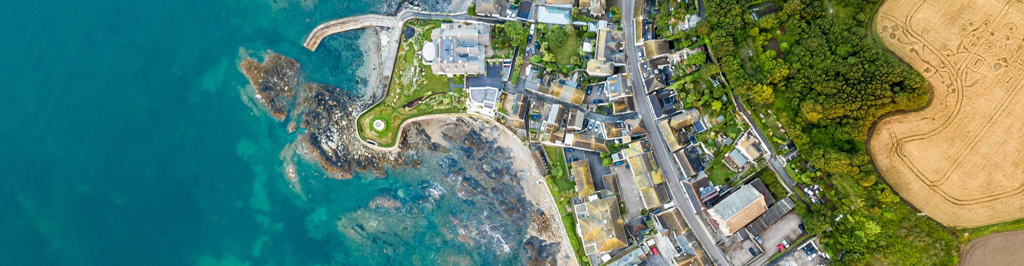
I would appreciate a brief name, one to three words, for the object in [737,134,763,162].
house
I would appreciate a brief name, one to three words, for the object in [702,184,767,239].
building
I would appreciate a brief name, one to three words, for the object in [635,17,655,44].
house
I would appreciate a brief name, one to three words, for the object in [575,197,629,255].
building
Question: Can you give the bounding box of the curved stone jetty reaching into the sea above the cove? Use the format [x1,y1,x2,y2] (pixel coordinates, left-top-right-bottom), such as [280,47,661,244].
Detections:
[304,14,396,52]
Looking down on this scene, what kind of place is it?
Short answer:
residential area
